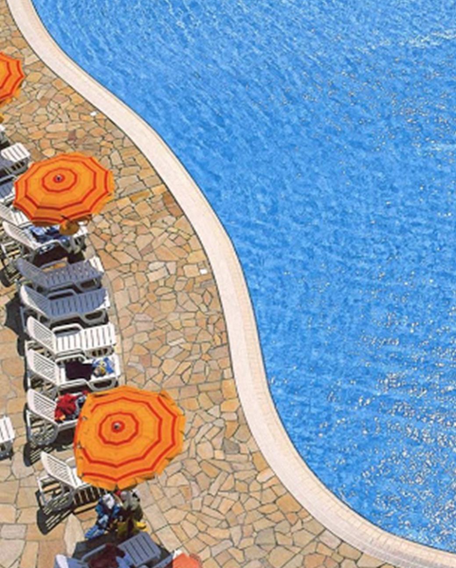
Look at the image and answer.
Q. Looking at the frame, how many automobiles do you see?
0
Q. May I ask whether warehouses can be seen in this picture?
No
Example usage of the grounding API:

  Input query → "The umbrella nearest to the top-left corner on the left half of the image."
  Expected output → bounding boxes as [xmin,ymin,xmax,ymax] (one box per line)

[0,53,30,114]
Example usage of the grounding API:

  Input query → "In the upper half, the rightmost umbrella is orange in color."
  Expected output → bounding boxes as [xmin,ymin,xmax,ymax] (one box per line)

[16,148,115,262]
